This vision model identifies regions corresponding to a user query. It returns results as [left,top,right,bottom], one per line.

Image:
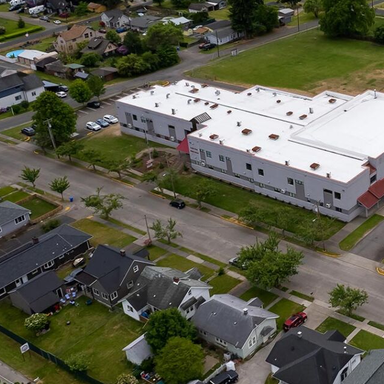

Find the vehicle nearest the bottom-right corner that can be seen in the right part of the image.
[282,314,310,329]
